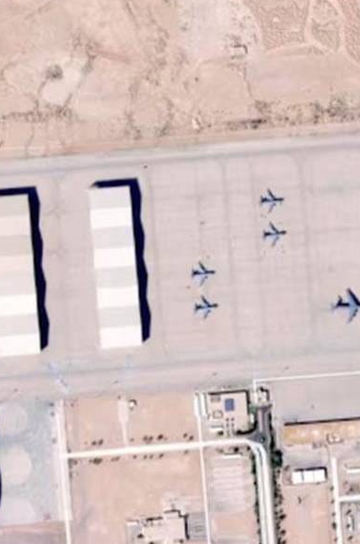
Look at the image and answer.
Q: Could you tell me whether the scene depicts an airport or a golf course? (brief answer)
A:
airport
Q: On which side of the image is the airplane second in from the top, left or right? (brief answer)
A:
right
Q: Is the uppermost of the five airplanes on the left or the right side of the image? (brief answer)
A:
right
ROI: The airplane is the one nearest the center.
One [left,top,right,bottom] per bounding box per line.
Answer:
[189,263,213,286]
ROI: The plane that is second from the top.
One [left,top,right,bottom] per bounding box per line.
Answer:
[261,224,285,247]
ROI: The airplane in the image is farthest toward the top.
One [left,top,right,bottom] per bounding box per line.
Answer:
[258,190,282,213]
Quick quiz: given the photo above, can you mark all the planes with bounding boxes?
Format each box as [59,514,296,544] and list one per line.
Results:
[189,263,213,286]
[258,190,282,213]
[332,291,360,323]
[192,297,216,320]
[261,224,285,247]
